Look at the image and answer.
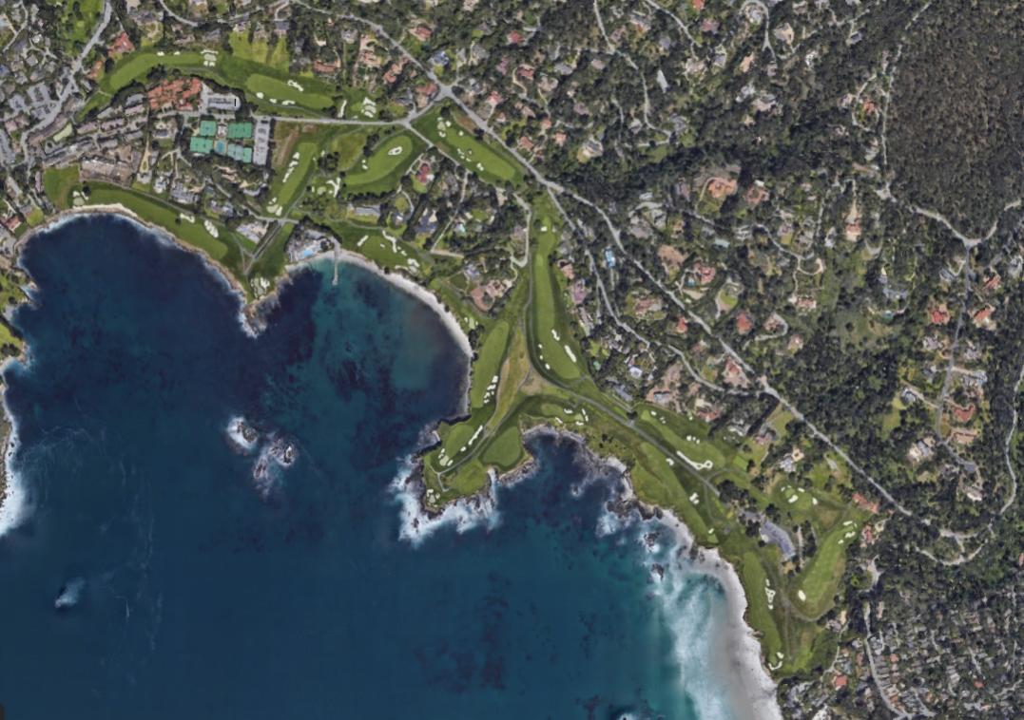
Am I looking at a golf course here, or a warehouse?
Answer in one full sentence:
Looking from above, you can make out a golf course.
